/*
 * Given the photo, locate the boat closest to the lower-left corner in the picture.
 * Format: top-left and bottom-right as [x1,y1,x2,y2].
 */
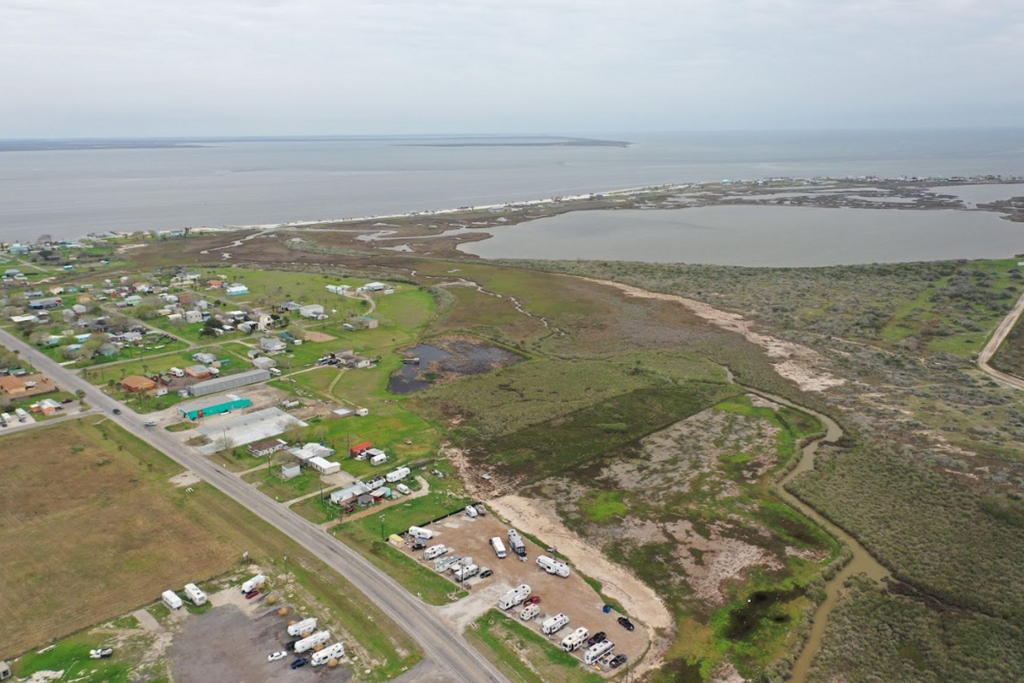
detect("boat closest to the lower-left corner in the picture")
[31,642,59,655]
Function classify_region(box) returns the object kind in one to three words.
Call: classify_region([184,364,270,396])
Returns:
building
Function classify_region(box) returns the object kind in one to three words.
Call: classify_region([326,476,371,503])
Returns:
house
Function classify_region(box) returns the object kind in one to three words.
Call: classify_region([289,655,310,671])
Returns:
car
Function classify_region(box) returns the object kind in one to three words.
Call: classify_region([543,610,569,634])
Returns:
vehicle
